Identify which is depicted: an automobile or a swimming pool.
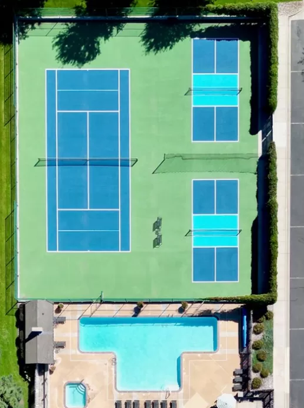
swimming pool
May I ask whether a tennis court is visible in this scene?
Yes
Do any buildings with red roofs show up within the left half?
No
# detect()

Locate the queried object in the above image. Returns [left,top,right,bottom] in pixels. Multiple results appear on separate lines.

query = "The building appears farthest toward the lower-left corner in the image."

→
[25,300,54,363]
